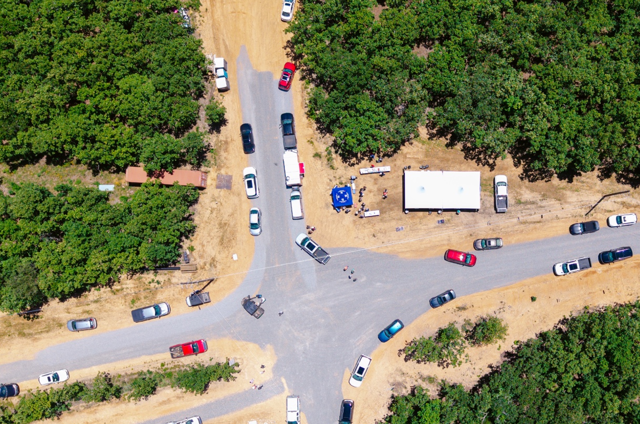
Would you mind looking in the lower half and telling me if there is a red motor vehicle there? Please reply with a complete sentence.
Yes, looking in the lower half, one can make out a red motor vehicle.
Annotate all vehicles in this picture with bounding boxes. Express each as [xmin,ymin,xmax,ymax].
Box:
[290,190,305,220]
[494,175,510,216]
[296,233,333,267]
[240,123,256,154]
[284,394,300,424]
[130,302,171,323]
[279,112,297,150]
[552,256,593,276]
[281,0,296,22]
[278,61,296,92]
[37,369,71,386]
[247,207,262,236]
[170,416,203,424]
[606,211,638,227]
[597,246,634,263]
[569,220,600,235]
[444,248,478,267]
[187,292,212,310]
[0,383,20,399]
[378,319,404,341]
[338,398,354,424]
[430,288,456,307]
[349,354,371,388]
[168,340,209,360]
[474,237,503,251]
[244,167,260,198]
[241,296,264,318]
[66,317,98,332]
